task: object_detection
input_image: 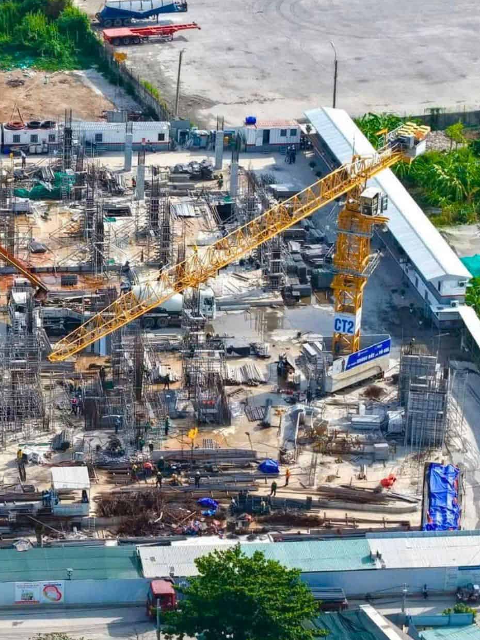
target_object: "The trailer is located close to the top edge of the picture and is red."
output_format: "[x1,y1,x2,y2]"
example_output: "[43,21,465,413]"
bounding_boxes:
[104,23,206,47]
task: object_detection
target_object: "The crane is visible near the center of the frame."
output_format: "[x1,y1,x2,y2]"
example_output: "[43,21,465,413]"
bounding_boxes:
[51,132,422,384]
